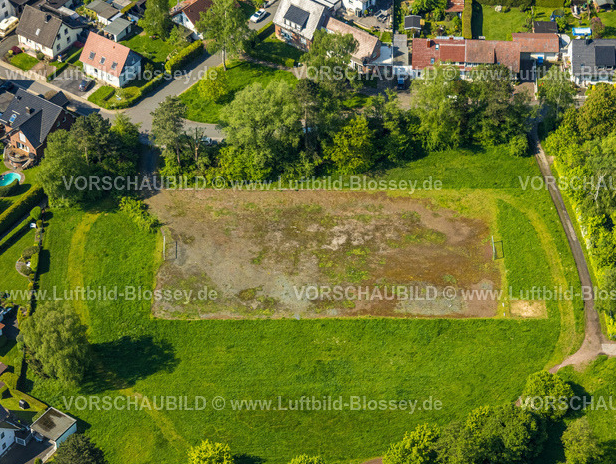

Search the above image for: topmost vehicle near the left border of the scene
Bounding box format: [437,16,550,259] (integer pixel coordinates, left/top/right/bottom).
[0,12,19,35]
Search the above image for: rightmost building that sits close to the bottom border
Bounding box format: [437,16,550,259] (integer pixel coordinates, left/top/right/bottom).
[30,406,77,449]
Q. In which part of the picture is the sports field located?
center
